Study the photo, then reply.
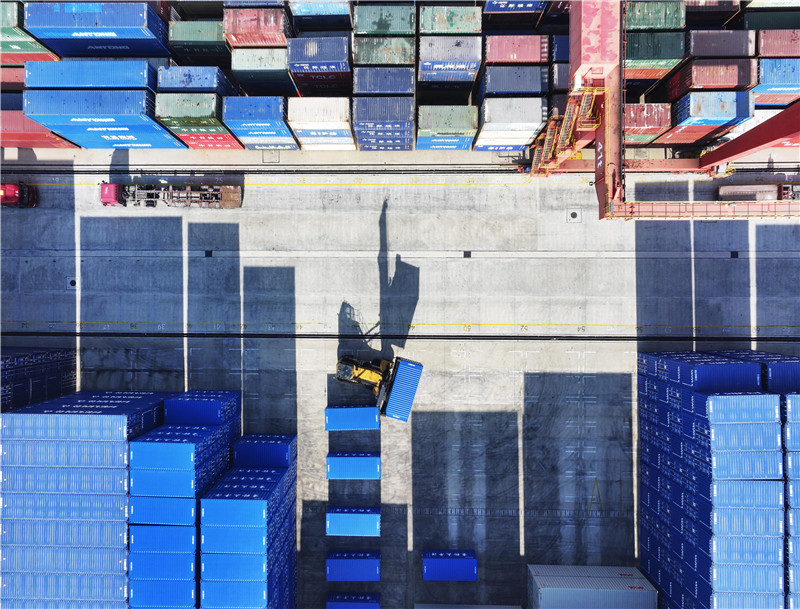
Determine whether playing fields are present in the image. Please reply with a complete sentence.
No, the scene contains no playing field.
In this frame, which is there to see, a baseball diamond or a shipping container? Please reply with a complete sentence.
This aerial view contains a shipping container.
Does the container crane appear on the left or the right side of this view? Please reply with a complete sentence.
The container crane sits on the right side.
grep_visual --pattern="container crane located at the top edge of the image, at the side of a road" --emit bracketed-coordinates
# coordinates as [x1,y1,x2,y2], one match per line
[498,0,800,222]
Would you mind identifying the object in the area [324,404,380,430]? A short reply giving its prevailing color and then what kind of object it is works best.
blue shipping container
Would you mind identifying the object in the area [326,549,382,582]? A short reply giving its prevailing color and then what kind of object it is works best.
blue shipping container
